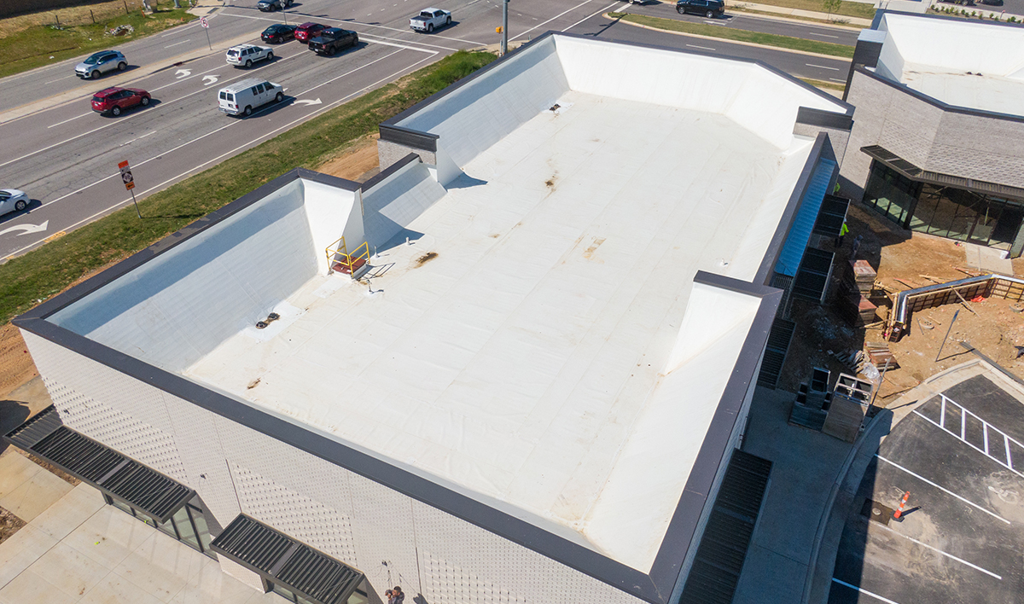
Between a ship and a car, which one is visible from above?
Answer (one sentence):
This aerial view contains a car.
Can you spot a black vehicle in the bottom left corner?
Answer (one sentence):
No, I can find no black vehicle in the bottom left corner.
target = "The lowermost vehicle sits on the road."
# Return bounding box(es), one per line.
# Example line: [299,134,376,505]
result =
[0,188,32,216]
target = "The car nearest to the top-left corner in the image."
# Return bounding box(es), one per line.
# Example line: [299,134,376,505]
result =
[71,48,128,79]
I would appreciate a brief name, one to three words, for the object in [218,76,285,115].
van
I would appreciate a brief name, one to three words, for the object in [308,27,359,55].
truck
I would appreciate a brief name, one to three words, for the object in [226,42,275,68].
car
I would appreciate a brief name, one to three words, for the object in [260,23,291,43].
car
